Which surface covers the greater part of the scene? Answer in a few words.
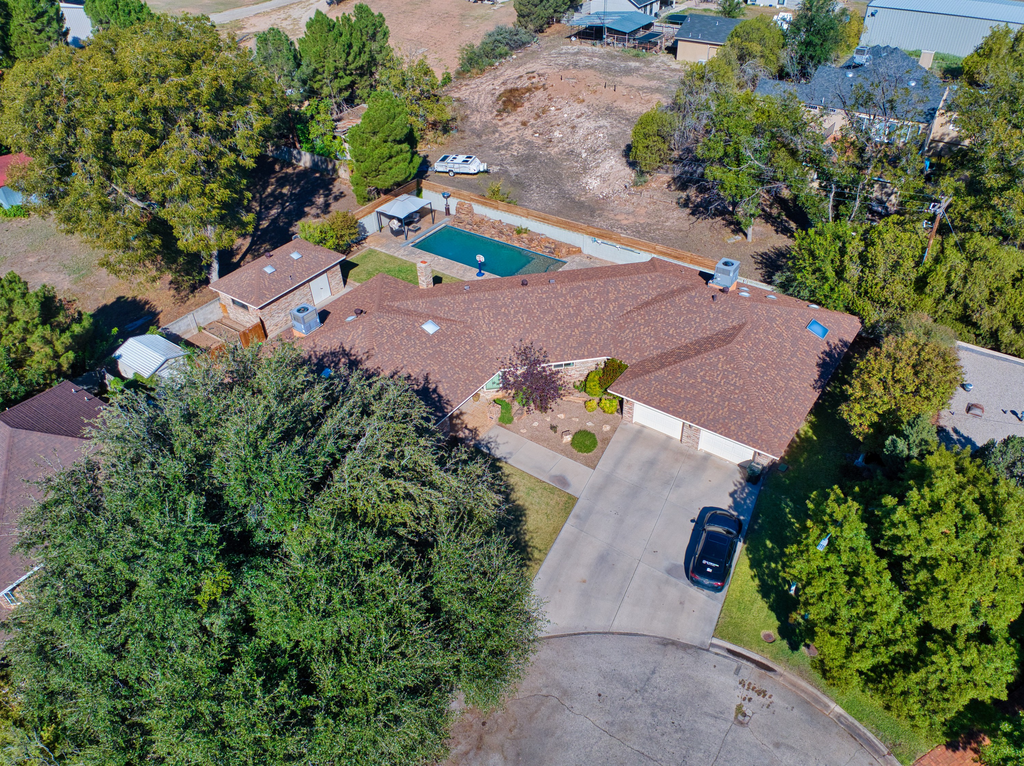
trees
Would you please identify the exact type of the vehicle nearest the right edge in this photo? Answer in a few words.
car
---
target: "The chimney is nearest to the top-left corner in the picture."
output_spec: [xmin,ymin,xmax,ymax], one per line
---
[417,258,436,288]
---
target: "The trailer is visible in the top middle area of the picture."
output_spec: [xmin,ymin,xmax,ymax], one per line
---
[436,150,493,174]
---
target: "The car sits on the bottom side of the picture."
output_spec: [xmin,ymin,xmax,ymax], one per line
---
[692,507,749,590]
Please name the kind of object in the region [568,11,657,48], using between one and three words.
barn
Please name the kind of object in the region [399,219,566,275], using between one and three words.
swimming pool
